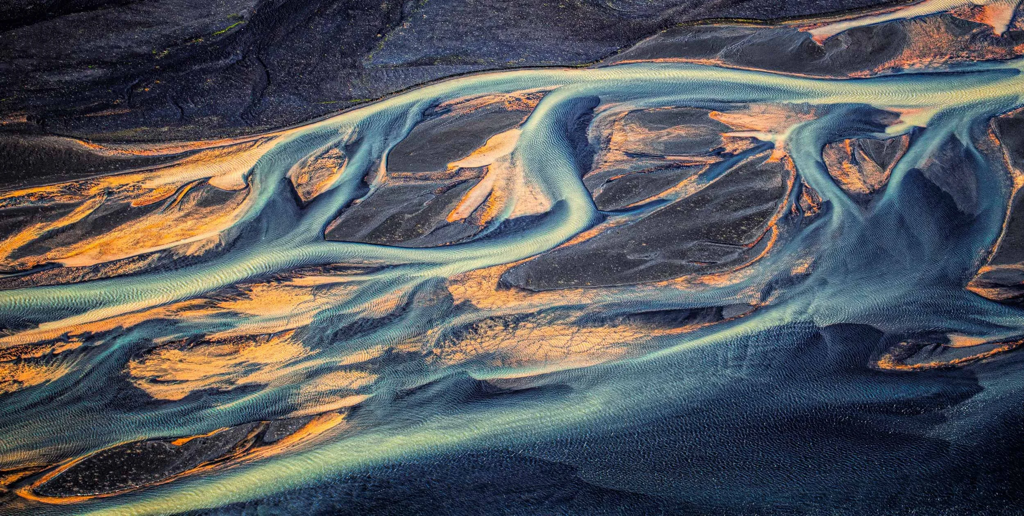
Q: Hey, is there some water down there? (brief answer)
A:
Yes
